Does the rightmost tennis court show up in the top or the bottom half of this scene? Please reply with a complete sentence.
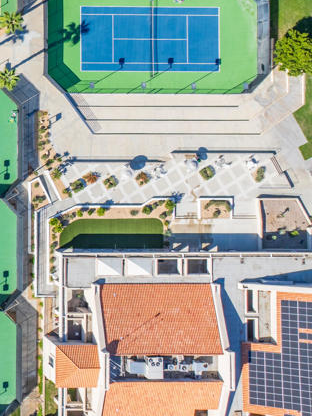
The rightmost tennis court sits in the top half of the picture.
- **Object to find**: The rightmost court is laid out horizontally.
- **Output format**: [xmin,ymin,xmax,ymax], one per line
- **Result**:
[44,0,257,92]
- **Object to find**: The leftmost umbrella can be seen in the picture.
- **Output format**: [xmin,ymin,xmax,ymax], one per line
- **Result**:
[117,166,134,182]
